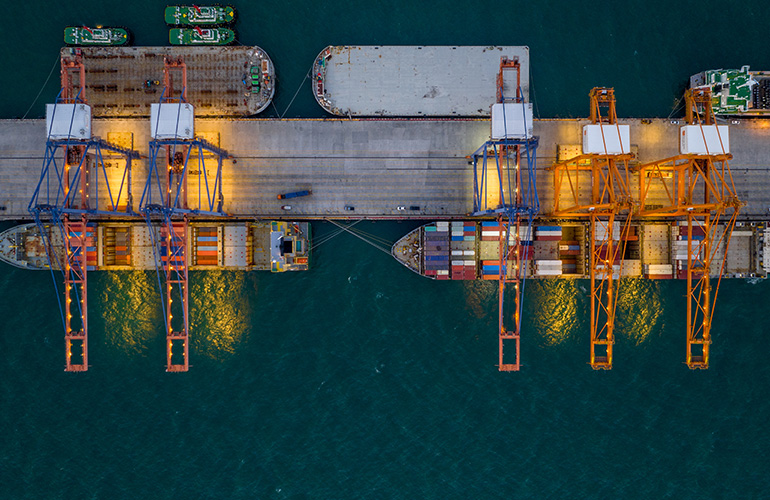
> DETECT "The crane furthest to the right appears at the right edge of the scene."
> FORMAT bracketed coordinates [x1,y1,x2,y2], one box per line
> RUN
[632,80,750,373]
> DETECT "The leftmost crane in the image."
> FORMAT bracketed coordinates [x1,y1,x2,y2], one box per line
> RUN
[26,60,140,372]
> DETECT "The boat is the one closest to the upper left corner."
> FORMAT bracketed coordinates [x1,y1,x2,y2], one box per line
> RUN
[62,23,132,47]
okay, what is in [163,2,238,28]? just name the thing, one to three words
boat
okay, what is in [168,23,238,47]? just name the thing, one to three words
boat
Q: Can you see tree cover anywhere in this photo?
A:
No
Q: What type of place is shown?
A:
port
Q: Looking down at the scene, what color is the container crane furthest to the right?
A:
orange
